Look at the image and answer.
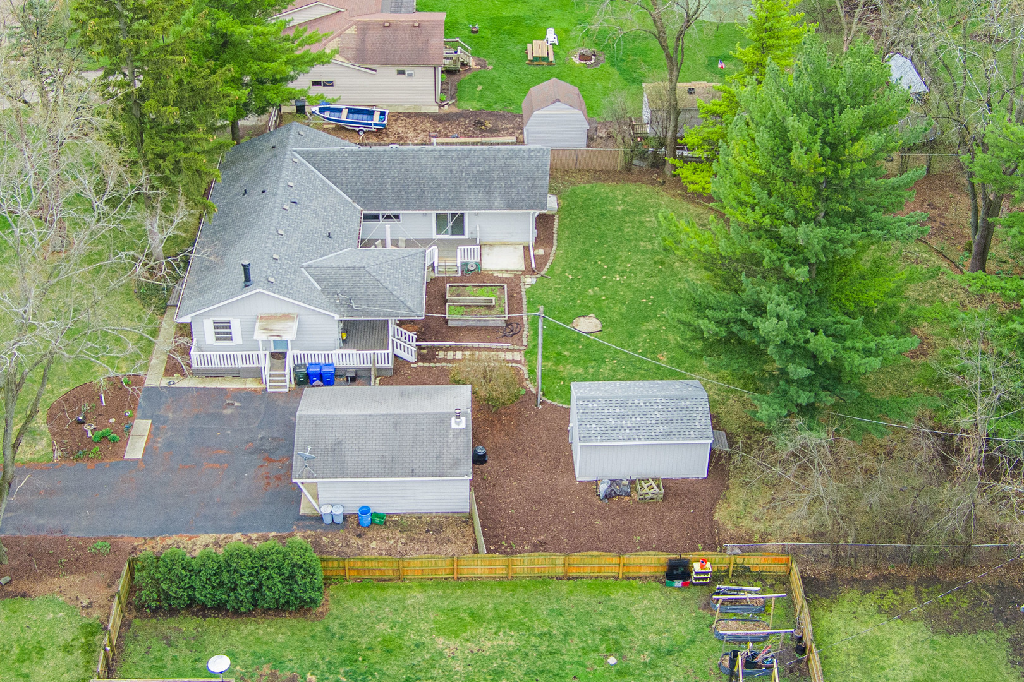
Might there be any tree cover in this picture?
Yes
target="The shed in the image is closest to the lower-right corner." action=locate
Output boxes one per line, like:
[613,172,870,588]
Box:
[570,380,715,481]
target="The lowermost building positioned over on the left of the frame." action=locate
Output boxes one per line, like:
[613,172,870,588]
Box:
[292,384,473,515]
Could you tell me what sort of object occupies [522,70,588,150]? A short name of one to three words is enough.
shed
